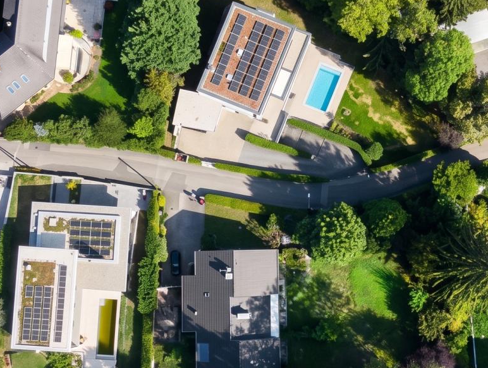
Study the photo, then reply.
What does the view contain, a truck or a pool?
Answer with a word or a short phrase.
pool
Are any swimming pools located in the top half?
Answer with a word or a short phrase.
Yes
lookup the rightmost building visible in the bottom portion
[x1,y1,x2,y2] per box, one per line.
[181,248,287,368]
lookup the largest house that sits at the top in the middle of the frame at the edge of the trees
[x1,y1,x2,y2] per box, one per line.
[197,2,312,124]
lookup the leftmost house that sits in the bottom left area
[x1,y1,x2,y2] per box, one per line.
[11,201,137,351]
